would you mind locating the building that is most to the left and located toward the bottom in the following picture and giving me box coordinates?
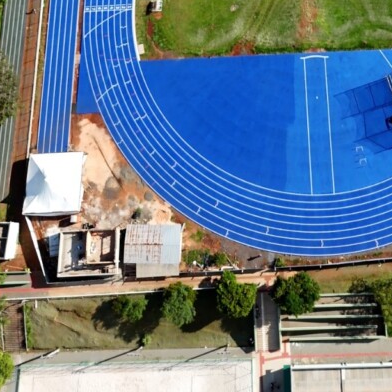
[0,220,25,260]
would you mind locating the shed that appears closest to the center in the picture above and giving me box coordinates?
[124,224,182,277]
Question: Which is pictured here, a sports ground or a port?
sports ground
